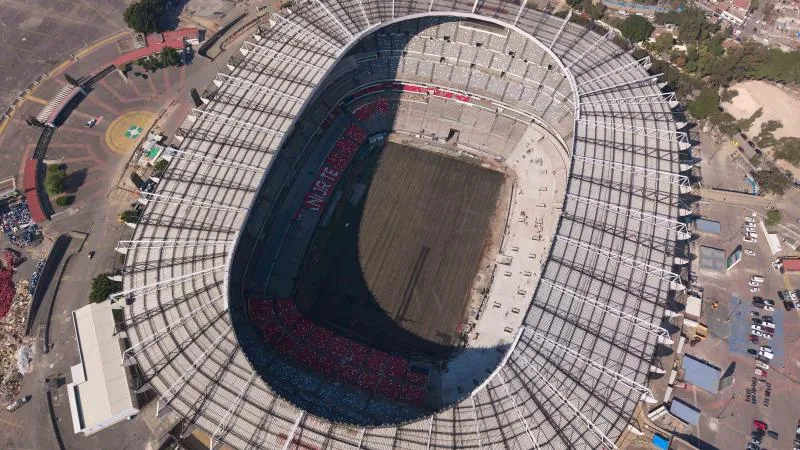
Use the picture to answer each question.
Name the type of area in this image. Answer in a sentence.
It's a sports ground.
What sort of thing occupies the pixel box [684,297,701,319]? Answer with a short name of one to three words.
building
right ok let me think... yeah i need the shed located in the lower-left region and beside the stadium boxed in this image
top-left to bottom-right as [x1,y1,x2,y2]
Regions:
[67,301,141,436]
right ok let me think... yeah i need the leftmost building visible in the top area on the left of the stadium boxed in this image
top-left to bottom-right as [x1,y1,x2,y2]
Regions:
[38,86,86,131]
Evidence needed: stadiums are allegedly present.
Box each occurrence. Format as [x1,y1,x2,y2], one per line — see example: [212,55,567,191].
[110,0,695,450]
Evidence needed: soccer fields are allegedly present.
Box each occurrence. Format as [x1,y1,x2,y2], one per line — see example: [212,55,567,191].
[304,139,504,356]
